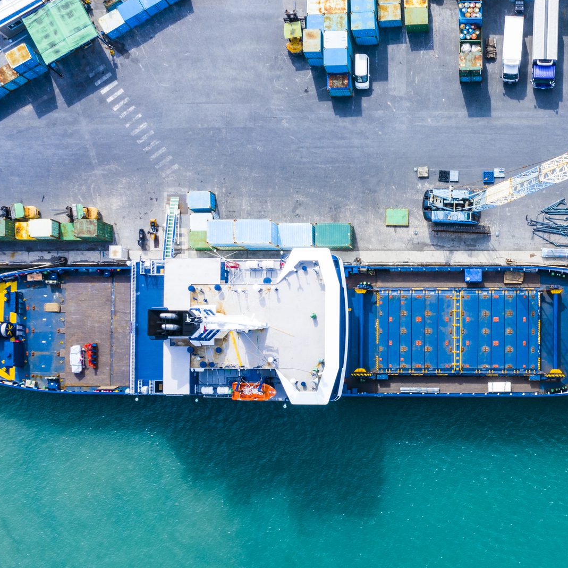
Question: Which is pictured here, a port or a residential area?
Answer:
port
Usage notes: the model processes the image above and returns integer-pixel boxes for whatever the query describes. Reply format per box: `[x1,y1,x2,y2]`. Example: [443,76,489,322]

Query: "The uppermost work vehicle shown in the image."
[512,0,525,13]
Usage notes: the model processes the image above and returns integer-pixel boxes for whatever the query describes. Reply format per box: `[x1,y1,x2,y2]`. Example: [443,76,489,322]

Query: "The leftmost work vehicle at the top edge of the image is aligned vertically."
[285,17,304,55]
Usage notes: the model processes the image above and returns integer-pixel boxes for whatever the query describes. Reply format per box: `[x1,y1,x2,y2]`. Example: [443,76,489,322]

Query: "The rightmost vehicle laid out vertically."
[532,0,560,89]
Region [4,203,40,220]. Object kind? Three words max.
work vehicle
